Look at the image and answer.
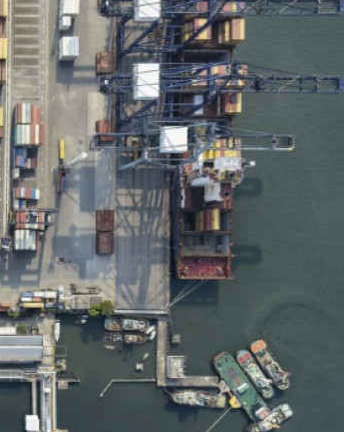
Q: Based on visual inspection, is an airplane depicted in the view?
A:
No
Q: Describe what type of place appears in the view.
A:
port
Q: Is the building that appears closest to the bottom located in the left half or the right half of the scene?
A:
left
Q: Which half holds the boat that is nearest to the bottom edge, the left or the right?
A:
right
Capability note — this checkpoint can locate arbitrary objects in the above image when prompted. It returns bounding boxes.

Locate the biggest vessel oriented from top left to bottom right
[215,353,268,419]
